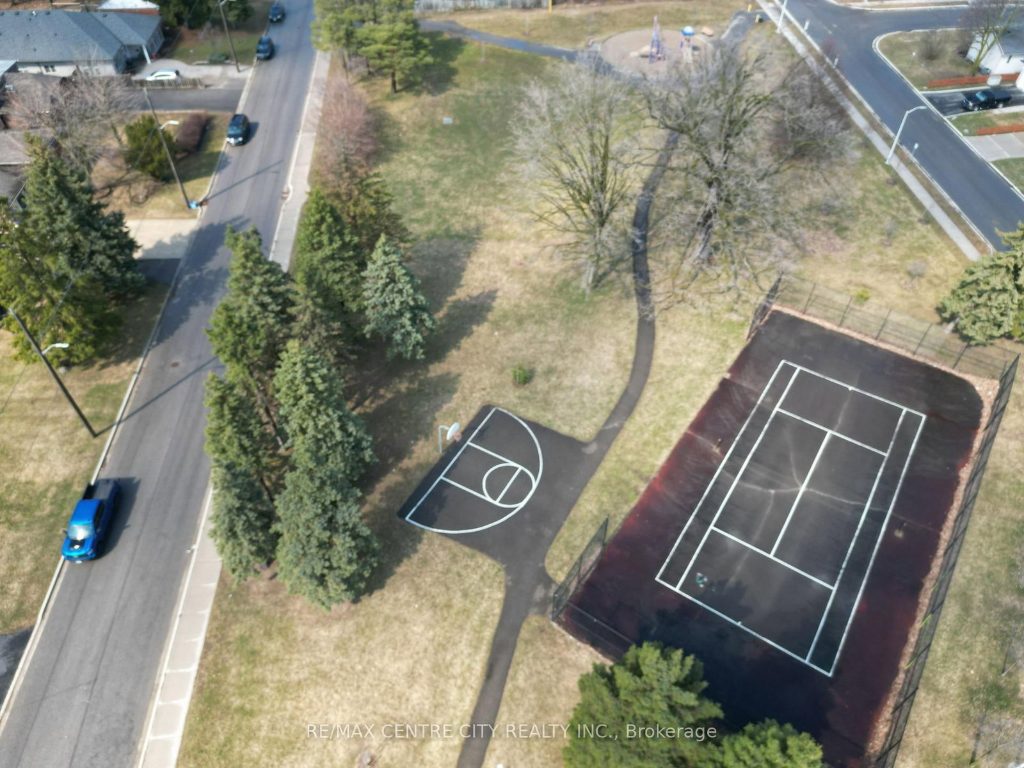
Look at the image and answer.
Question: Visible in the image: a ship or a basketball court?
basketball court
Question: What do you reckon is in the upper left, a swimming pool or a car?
car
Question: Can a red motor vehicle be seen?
No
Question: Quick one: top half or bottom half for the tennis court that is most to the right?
bottom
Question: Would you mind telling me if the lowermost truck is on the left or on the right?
left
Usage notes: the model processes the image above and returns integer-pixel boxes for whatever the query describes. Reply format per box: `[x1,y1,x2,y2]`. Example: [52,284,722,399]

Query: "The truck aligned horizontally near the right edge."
[961,88,1015,110]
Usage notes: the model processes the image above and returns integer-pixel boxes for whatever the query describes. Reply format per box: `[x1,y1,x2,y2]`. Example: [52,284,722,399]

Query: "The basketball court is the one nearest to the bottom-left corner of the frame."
[398,405,611,579]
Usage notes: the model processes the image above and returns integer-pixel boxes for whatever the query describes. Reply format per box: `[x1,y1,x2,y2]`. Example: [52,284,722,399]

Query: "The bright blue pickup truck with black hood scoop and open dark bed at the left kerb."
[63,479,126,561]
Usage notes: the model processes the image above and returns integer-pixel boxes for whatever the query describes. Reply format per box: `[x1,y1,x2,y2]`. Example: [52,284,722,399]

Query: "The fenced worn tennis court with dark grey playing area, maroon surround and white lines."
[553,309,983,768]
